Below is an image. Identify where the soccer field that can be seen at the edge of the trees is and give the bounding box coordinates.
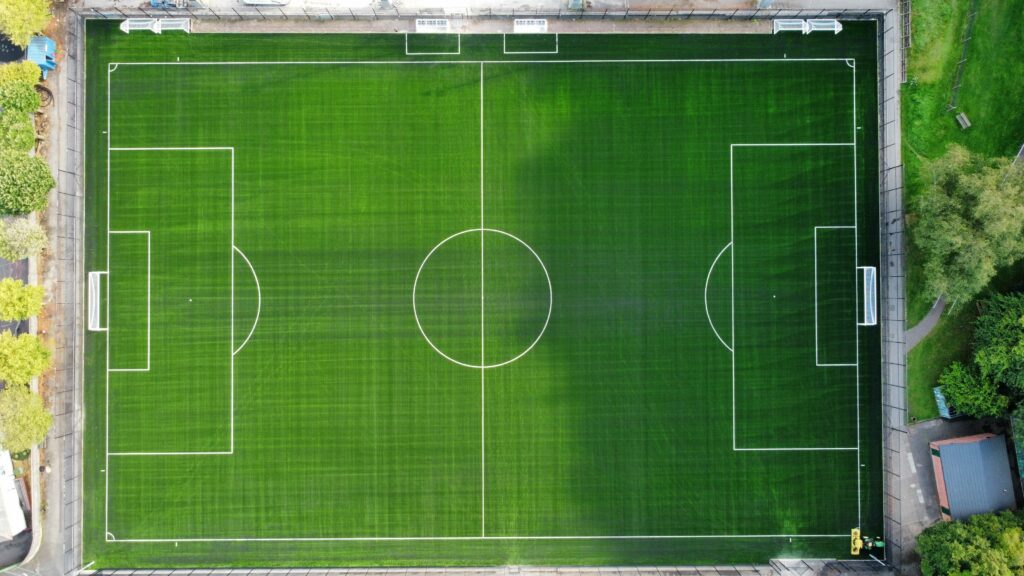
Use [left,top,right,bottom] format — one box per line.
[83,19,885,570]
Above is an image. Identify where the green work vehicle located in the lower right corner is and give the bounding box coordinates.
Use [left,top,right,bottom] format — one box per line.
[864,537,887,553]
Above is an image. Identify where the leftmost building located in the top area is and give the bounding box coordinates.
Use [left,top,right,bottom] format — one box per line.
[24,37,59,82]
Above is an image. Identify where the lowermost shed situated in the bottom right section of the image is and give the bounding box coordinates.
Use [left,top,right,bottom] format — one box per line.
[930,433,1016,524]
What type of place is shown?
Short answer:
sports ground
